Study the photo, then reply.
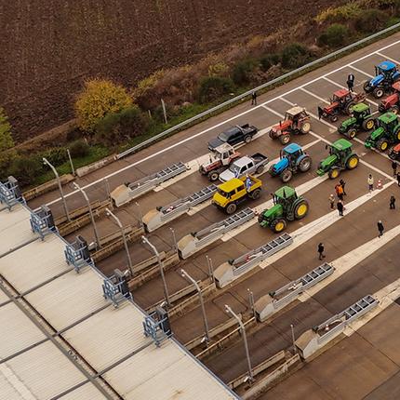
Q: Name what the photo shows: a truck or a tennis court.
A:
truck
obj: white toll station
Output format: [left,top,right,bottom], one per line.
[0,179,243,400]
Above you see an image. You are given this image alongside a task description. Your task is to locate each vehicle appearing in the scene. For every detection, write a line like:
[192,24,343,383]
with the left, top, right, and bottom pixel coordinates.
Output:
[364,60,400,100]
[265,141,315,186]
[270,107,312,145]
[362,113,400,153]
[206,173,264,214]
[313,136,363,181]
[312,87,371,128]
[337,103,378,141]
[256,183,312,235]
[195,140,244,181]
[206,121,259,153]
[217,151,273,181]
[379,80,400,116]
